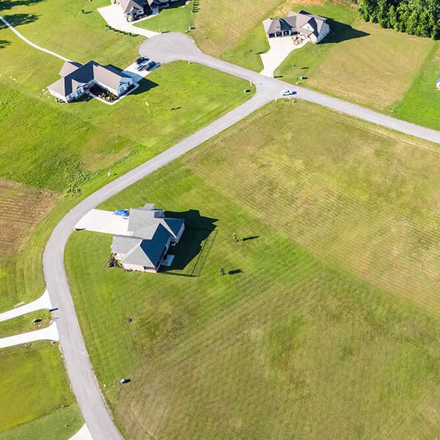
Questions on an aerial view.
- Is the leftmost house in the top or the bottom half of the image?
top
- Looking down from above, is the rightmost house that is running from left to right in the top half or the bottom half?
top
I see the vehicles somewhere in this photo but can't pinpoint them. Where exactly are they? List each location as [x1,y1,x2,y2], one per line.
[111,209,129,217]
[135,55,147,63]
[134,63,145,71]
[145,60,156,70]
[279,88,294,95]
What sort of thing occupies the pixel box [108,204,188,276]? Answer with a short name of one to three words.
house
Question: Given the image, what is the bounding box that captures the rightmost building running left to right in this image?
[260,10,331,46]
